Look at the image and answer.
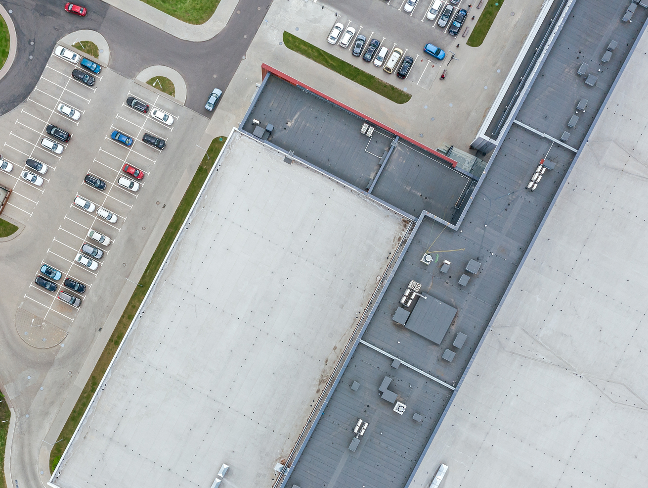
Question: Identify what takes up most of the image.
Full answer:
For the most part, this view shows buildings.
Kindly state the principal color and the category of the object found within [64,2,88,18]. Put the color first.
red car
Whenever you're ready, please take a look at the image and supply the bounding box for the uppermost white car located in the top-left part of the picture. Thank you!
[55,46,81,65]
